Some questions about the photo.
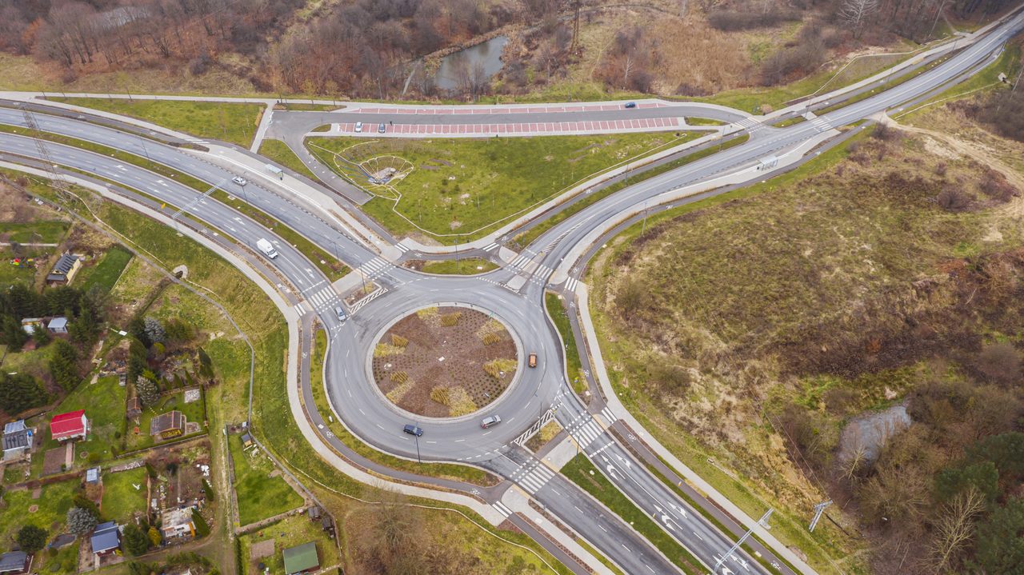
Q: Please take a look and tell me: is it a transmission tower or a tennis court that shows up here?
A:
transmission tower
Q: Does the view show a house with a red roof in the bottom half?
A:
Yes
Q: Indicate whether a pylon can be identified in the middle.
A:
No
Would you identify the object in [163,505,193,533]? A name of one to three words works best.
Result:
shed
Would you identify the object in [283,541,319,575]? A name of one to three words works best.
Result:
building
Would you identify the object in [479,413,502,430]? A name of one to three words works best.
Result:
car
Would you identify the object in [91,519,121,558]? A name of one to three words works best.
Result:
house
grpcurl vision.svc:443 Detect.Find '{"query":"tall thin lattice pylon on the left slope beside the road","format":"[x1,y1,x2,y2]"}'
[10,110,71,201]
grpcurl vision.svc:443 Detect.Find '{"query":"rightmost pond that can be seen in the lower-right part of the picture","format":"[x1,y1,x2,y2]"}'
[829,404,915,475]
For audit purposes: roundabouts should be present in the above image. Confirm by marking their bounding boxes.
[328,279,560,457]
